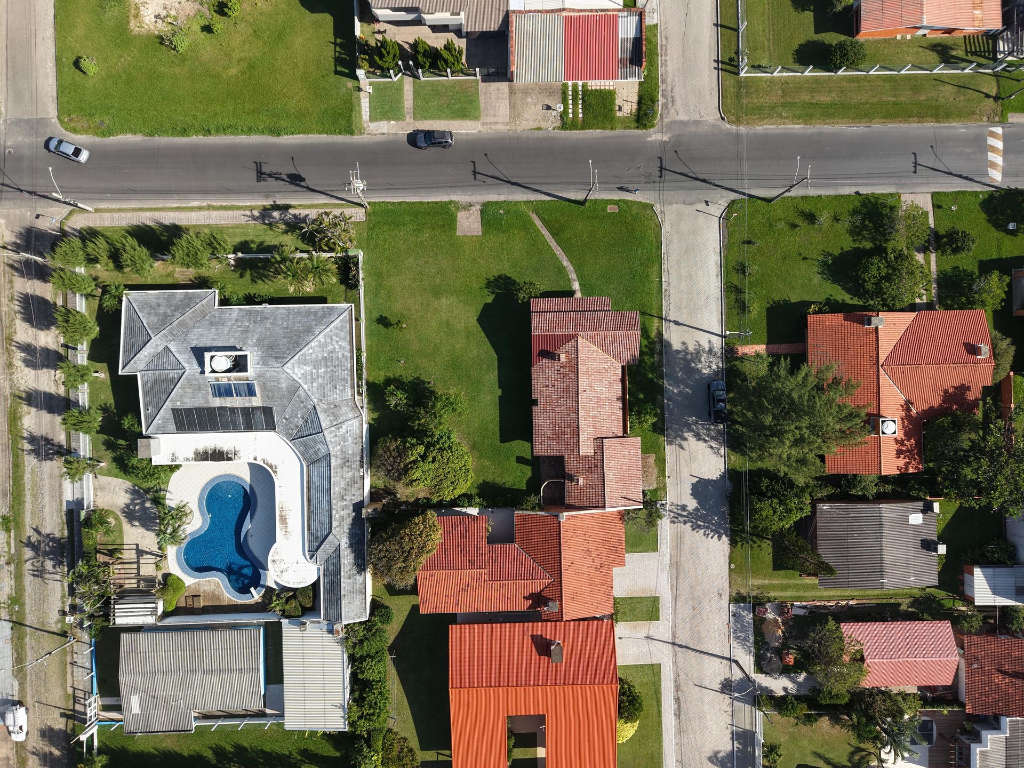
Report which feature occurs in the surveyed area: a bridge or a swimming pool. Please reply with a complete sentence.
This aerial view contains a swimming pool.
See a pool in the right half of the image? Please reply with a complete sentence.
No, the scene shows no pool in the right half of the image.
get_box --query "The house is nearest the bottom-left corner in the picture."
[118,622,273,734]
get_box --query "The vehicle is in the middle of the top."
[416,128,453,149]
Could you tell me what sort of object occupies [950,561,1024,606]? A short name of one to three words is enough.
shed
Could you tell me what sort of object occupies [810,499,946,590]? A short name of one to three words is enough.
house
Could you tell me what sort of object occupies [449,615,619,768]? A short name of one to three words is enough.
house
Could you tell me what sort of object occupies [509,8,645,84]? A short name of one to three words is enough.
shed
